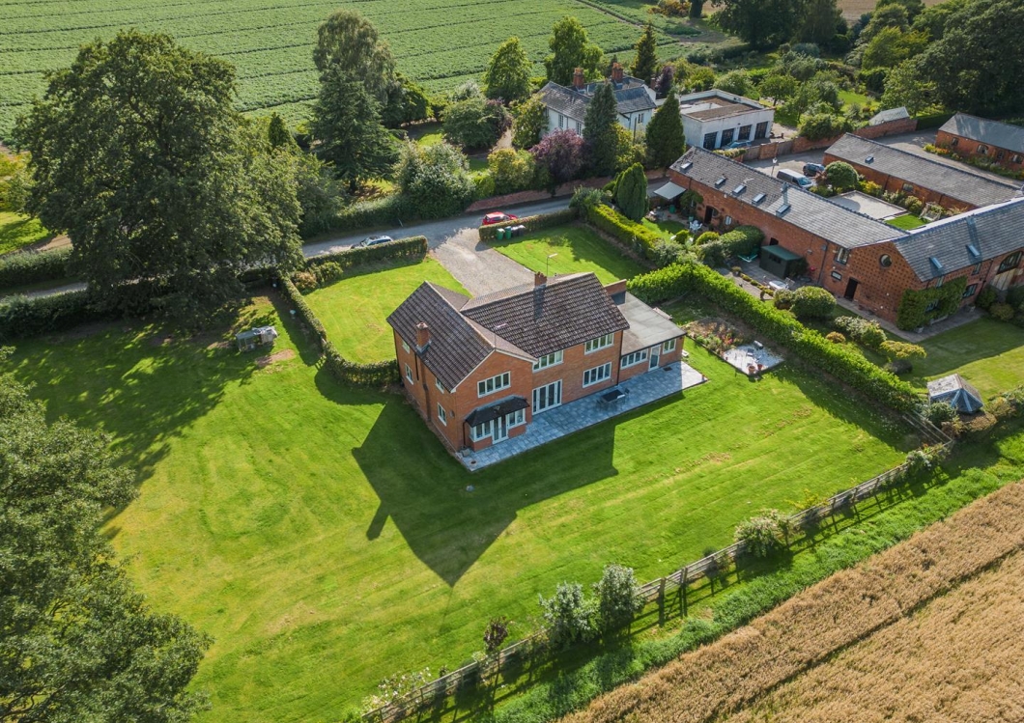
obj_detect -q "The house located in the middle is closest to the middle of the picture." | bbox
[387,271,690,451]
